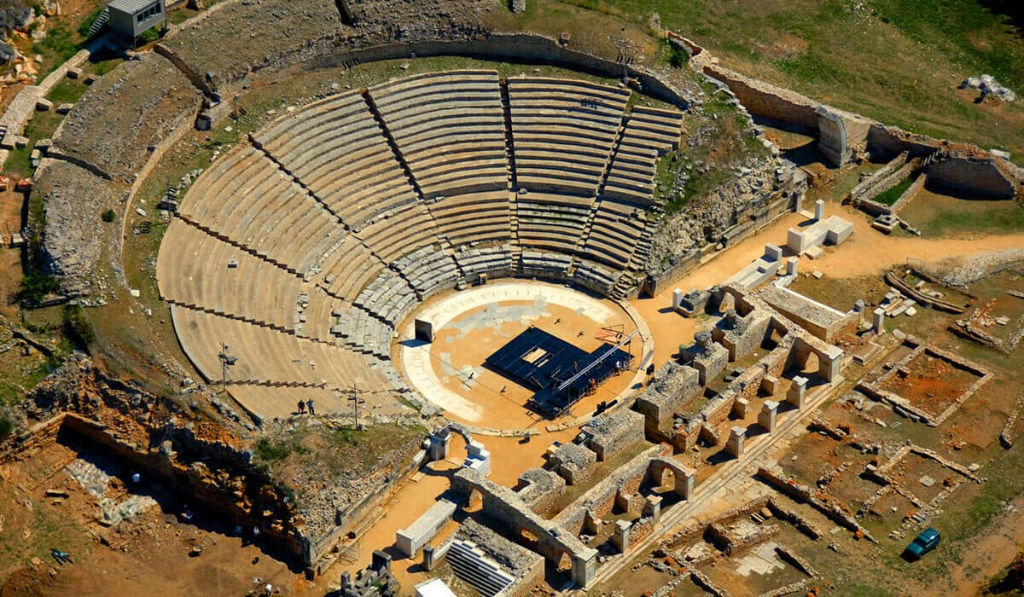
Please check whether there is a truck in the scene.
No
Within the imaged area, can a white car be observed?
No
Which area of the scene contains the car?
bottom right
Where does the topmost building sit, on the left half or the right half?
left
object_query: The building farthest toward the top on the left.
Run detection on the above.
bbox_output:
[106,0,169,53]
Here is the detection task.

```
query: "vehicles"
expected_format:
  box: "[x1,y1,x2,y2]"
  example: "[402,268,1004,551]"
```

[904,522,946,559]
